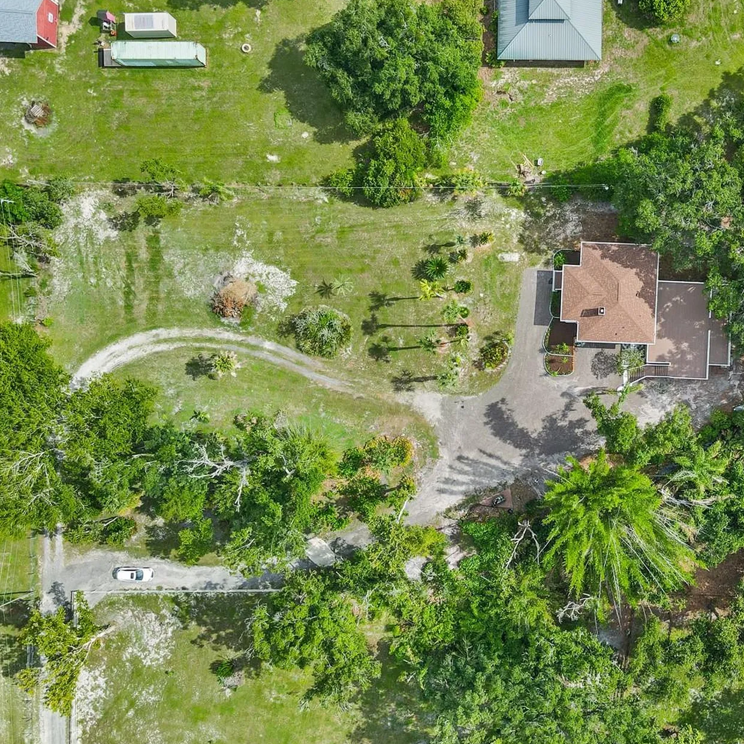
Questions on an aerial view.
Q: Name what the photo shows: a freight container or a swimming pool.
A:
freight container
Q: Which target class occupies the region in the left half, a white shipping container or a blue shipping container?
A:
white shipping container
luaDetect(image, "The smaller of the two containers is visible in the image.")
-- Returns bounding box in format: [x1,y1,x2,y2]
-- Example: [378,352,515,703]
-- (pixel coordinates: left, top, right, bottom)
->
[125,12,178,39]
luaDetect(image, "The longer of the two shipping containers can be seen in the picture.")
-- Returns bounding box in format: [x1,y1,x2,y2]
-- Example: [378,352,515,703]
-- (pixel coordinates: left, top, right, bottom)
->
[111,40,206,67]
